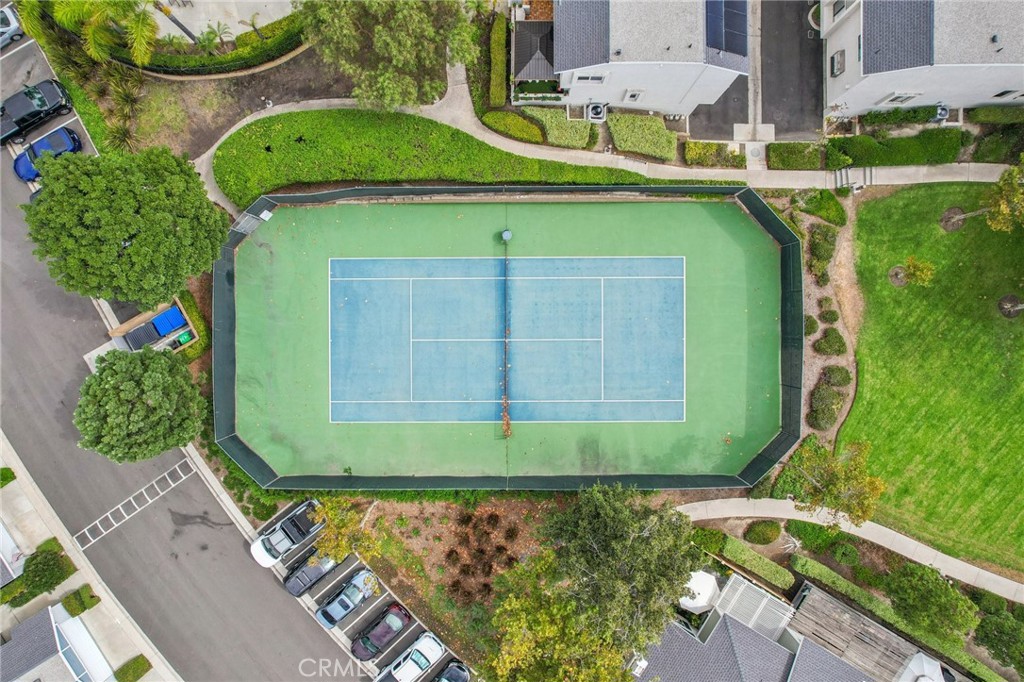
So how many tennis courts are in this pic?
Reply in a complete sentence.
The count comes to 1 tennis court.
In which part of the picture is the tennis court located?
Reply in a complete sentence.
The tennis court appears toward the center of the photo.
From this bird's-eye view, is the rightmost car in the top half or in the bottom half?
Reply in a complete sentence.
The bottom half of the photo is where the rightmost car is.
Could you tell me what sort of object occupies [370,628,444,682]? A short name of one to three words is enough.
truck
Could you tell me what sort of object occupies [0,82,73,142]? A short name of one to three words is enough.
truck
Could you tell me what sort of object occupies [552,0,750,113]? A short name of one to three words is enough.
house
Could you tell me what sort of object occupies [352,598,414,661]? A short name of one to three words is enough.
car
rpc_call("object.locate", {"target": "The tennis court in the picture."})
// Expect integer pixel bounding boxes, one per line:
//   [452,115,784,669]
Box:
[235,197,781,476]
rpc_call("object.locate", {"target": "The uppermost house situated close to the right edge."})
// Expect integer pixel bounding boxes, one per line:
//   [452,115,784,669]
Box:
[821,0,1024,107]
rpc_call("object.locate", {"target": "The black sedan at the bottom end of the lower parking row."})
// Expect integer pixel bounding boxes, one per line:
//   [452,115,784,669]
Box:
[427,655,473,682]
